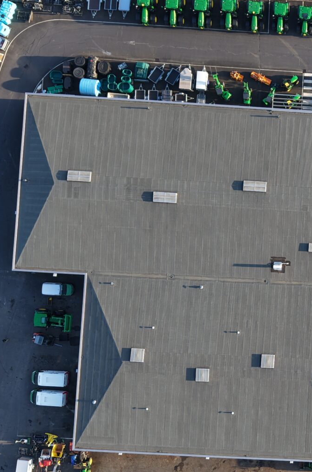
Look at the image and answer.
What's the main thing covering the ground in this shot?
buildings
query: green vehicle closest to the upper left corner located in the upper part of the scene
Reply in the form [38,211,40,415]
[135,0,157,29]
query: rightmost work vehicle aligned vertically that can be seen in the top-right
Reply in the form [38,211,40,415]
[297,6,312,38]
